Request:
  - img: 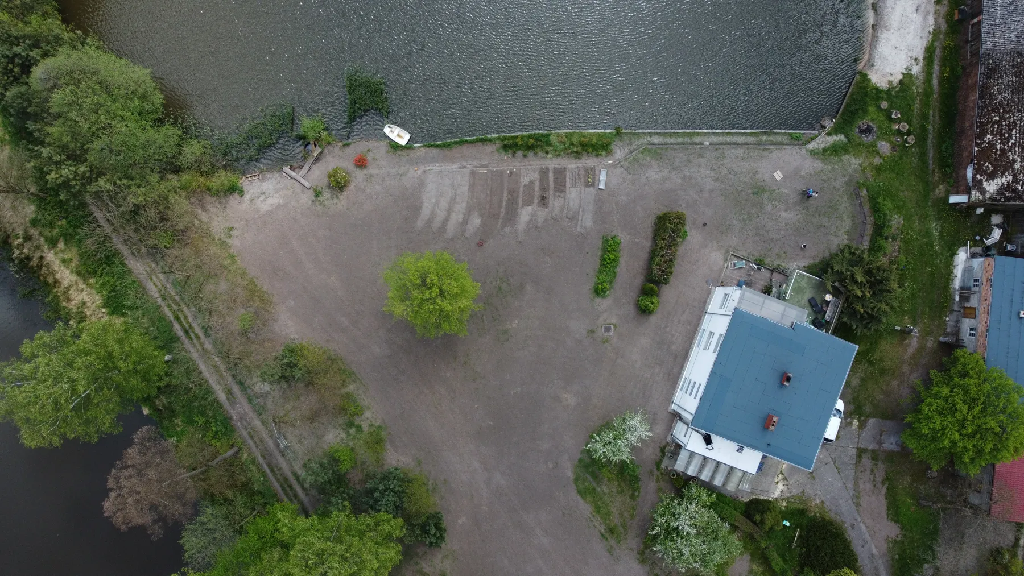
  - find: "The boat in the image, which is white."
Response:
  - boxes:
[384,124,412,147]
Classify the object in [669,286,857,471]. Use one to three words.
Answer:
house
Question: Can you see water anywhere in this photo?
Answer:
Yes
